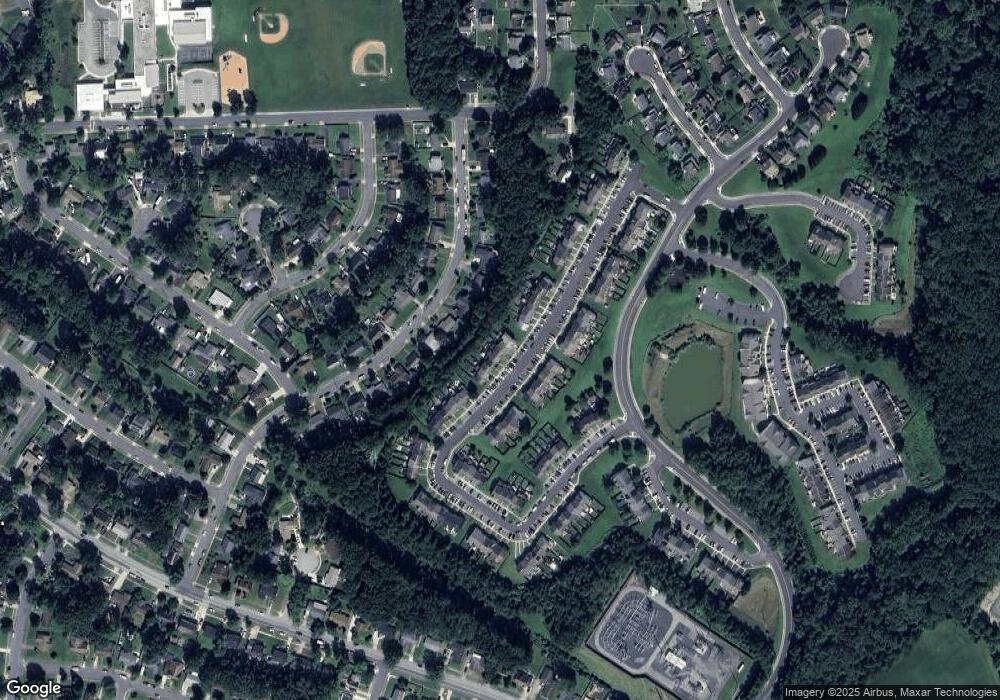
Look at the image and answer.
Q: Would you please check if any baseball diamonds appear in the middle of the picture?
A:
No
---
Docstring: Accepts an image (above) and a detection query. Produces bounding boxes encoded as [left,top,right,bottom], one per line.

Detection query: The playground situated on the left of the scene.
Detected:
[219,51,249,105]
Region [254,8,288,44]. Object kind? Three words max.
baseball field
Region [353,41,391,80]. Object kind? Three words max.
baseball field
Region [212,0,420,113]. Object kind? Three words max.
sports field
